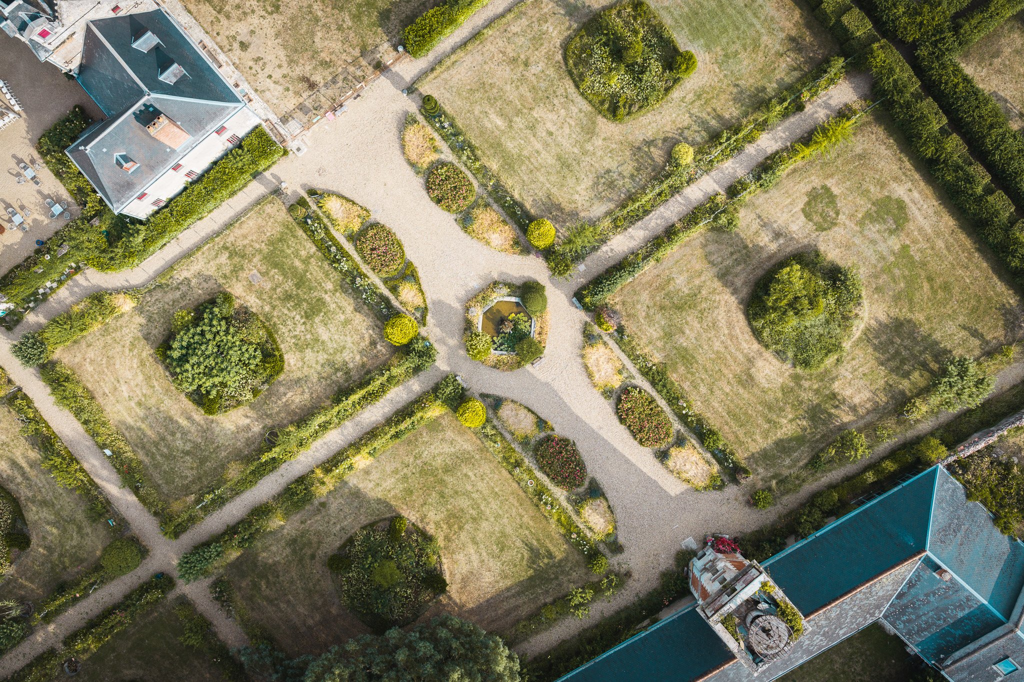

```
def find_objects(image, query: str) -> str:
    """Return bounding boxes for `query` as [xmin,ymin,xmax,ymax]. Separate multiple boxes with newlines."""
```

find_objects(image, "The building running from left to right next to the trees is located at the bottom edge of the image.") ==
[549,462,1024,682]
